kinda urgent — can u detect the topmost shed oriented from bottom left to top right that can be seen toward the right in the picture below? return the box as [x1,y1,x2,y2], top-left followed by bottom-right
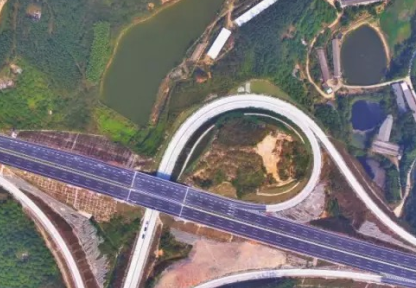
[234,0,278,26]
